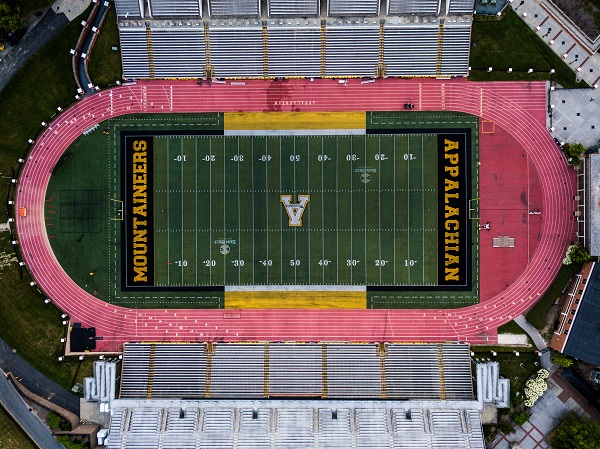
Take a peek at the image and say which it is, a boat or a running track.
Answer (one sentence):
Visible in the photo is a running track.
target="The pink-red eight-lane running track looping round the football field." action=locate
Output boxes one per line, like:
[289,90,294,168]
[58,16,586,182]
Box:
[16,81,578,352]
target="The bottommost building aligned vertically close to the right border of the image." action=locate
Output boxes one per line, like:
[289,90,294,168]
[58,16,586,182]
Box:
[551,260,600,366]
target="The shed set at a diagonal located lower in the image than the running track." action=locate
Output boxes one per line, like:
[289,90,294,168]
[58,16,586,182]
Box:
[557,362,600,409]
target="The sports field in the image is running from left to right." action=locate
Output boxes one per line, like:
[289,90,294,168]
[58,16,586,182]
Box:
[45,112,479,309]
